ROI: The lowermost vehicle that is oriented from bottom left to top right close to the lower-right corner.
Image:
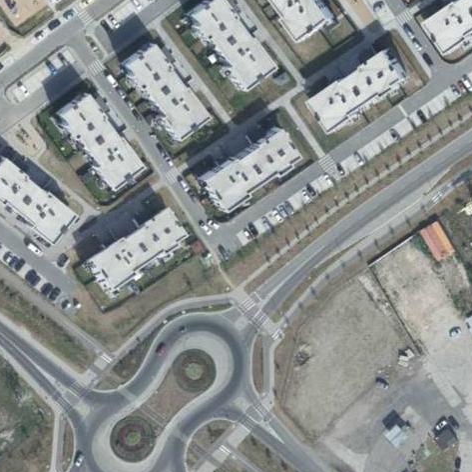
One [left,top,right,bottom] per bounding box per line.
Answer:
[433,418,450,433]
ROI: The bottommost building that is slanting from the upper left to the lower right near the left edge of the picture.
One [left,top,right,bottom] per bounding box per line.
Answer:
[0,153,78,242]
